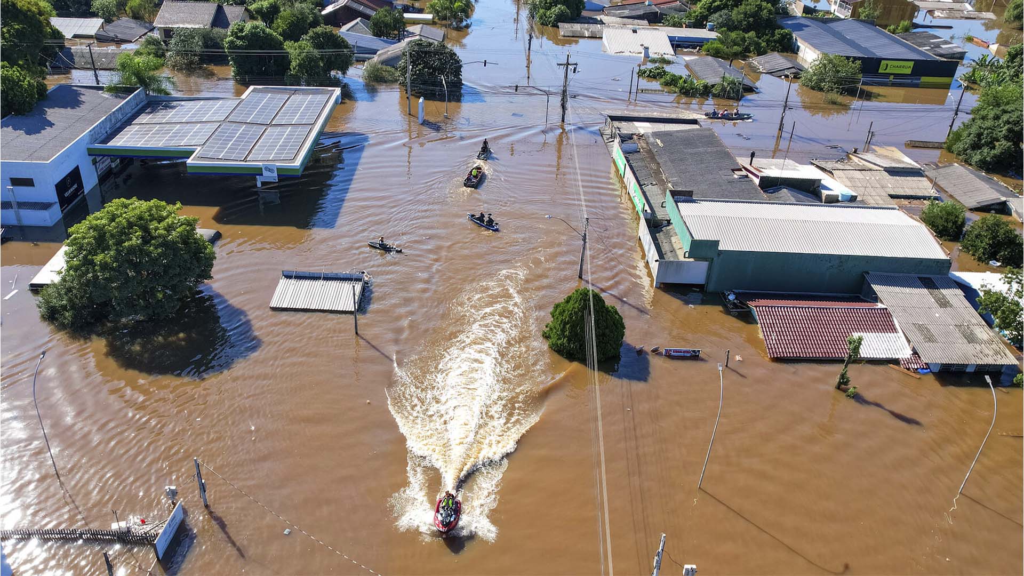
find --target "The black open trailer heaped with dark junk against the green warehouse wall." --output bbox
[717,290,754,318]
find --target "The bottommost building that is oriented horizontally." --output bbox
[740,301,921,363]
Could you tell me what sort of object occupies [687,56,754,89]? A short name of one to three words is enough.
house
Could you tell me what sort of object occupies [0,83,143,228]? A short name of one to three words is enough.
building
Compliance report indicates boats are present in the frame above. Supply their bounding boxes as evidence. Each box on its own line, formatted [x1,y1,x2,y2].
[462,160,487,189]
[468,213,500,231]
[431,491,462,531]
[472,141,492,160]
[368,241,402,252]
[705,108,755,120]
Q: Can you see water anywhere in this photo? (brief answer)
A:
Yes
